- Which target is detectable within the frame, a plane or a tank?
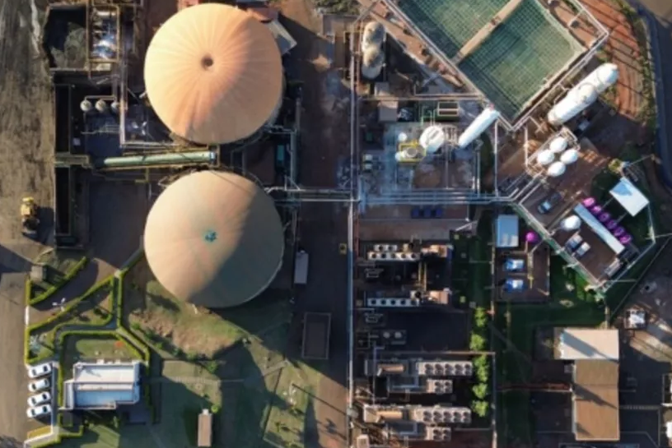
tank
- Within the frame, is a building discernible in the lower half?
Yes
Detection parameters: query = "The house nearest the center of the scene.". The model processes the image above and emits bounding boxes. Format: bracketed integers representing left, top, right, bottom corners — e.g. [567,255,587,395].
[422,246,450,259]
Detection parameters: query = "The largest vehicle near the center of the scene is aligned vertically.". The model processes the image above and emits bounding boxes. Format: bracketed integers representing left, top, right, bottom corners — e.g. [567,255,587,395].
[294,249,308,284]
